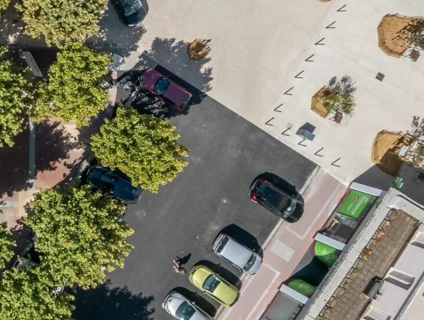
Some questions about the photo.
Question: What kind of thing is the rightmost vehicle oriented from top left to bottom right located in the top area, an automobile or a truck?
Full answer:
The rightmost vehicle oriented from top left to bottom right located in the top area appears to be an automobile.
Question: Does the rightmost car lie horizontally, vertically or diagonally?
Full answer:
The rightmost car runs diagonally in the image.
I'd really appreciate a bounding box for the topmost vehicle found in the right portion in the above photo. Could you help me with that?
[242,166,305,224]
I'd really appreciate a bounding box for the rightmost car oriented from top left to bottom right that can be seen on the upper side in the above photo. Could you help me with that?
[132,63,199,116]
